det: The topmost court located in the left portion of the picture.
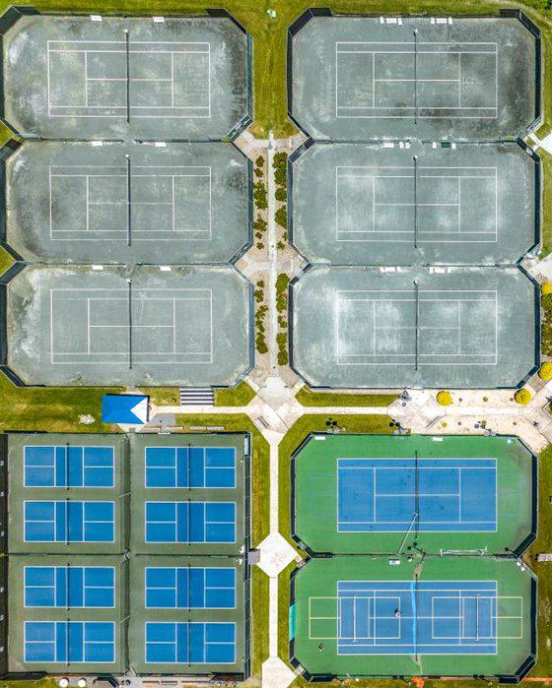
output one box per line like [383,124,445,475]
[5,15,246,140]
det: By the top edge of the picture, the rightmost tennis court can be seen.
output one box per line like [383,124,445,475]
[293,16,540,141]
